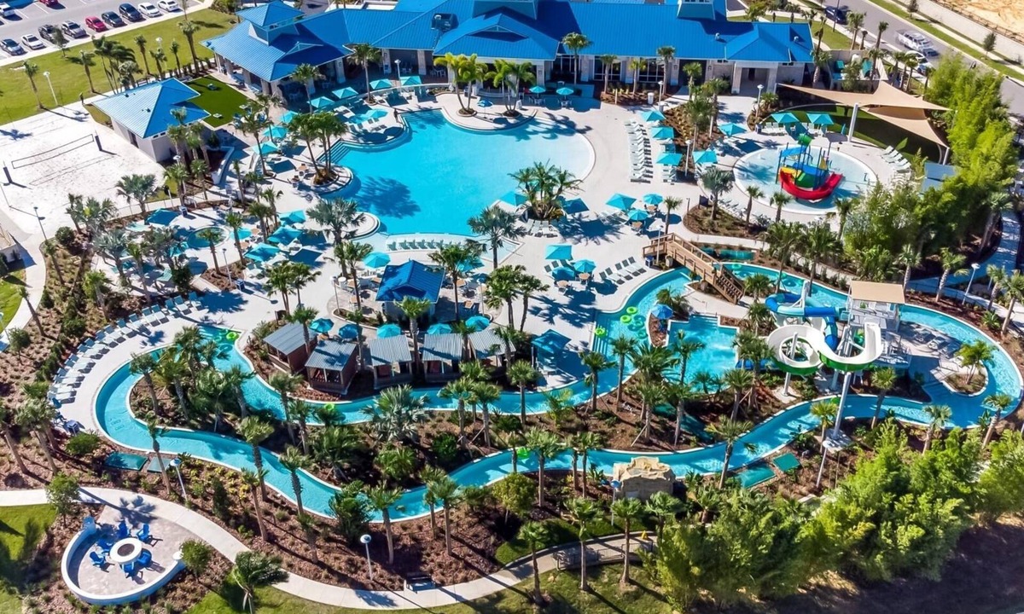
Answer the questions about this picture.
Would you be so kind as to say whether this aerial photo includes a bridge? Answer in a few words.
Yes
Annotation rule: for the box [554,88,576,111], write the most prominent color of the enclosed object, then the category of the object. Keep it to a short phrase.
blue umbrella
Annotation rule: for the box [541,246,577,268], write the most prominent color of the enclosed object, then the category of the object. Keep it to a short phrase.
blue umbrella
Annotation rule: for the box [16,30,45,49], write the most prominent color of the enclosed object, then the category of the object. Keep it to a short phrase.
white car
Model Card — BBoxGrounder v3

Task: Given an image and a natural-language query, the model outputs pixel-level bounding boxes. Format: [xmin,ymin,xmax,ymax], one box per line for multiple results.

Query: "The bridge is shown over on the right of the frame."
[642,232,746,304]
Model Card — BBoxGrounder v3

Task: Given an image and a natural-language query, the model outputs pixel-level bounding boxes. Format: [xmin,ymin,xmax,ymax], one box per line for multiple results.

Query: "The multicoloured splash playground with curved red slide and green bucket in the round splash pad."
[775,128,844,199]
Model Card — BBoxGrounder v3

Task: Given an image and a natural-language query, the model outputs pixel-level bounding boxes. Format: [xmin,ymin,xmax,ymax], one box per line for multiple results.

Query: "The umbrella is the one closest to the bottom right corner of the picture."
[645,307,677,340]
